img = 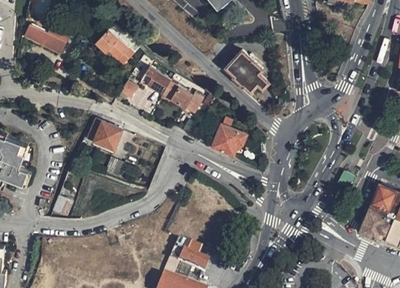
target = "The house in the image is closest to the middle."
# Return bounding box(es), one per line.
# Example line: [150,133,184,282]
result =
[212,116,249,158]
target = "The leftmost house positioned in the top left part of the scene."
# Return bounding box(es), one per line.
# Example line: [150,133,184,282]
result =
[25,22,70,54]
